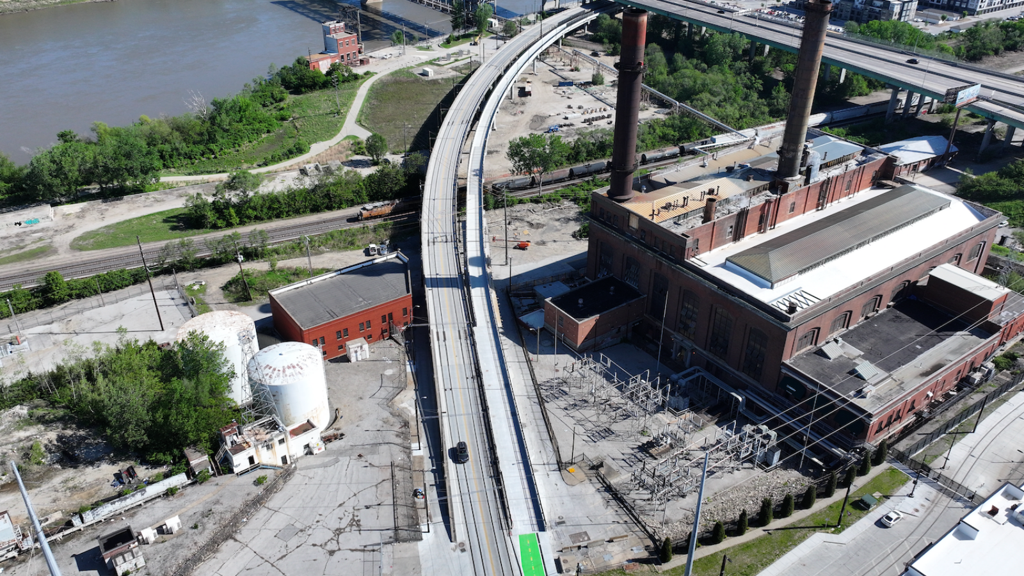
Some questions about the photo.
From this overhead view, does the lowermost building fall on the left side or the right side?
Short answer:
right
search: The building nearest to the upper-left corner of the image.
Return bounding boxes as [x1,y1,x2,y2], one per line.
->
[308,19,377,68]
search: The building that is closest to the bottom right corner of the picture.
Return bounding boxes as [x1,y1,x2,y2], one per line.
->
[899,479,1024,576]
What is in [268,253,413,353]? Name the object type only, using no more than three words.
building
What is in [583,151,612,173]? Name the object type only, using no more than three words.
rail car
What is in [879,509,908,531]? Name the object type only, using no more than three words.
car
